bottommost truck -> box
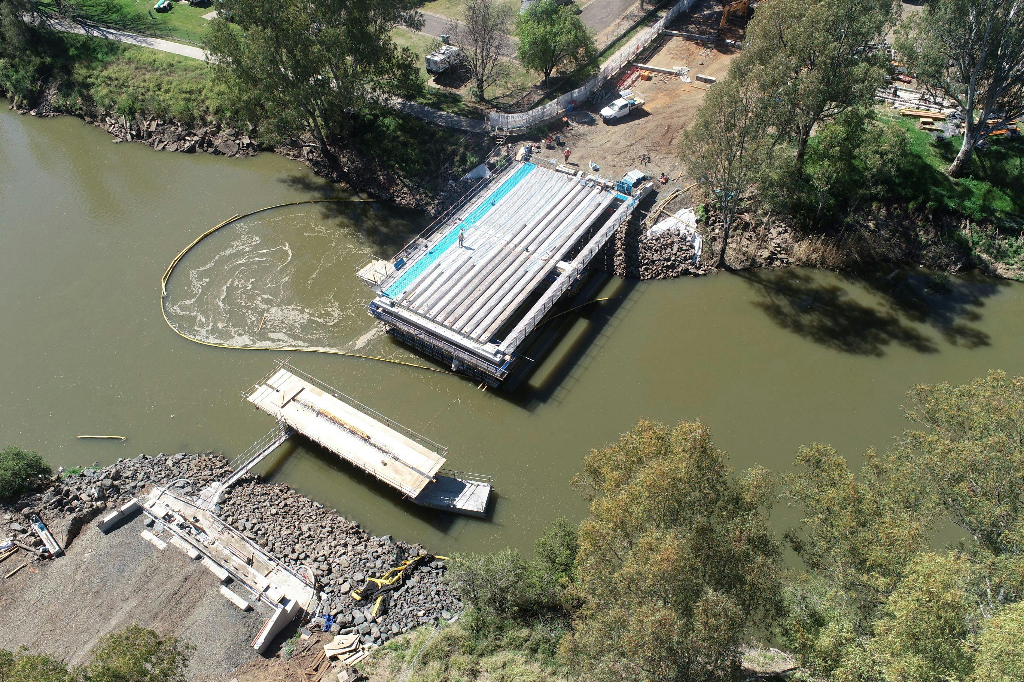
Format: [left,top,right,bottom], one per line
[601,84,656,121]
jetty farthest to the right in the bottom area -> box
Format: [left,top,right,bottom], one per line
[406,453,502,520]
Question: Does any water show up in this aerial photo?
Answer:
Yes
